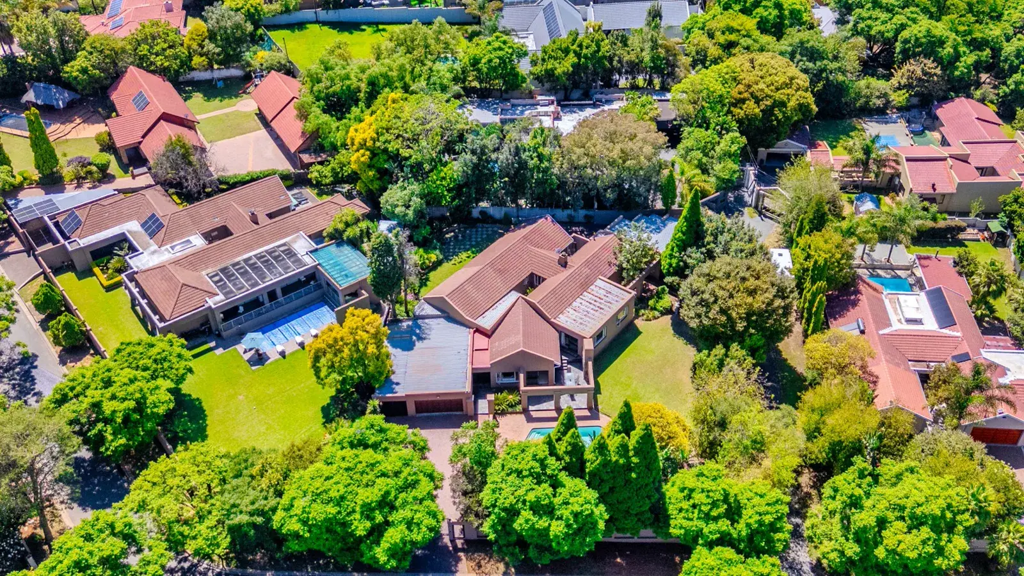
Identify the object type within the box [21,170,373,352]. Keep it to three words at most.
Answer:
house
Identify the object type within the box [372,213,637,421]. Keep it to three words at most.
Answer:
house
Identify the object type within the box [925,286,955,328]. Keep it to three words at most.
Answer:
solar panel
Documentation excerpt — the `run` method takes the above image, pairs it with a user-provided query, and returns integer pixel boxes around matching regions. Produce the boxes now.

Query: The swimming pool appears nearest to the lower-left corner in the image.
[255,300,335,355]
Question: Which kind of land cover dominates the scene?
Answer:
trees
